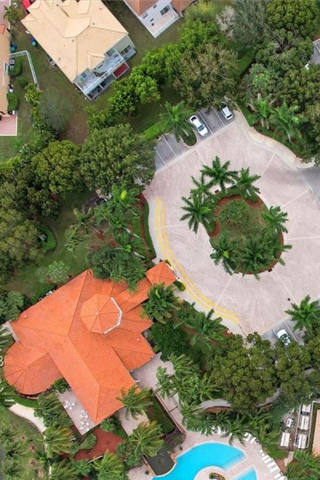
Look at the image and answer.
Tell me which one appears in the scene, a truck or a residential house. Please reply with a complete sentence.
The image shows a residential house.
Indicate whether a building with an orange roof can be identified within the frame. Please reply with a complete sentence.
Yes, looking at the shot, I can spot a building with an orange roof.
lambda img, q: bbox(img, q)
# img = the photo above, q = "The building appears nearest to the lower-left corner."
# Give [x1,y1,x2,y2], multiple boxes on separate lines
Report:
[3,261,182,424]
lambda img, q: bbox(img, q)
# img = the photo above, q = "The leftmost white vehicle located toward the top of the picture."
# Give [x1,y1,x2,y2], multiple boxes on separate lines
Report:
[189,114,207,135]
